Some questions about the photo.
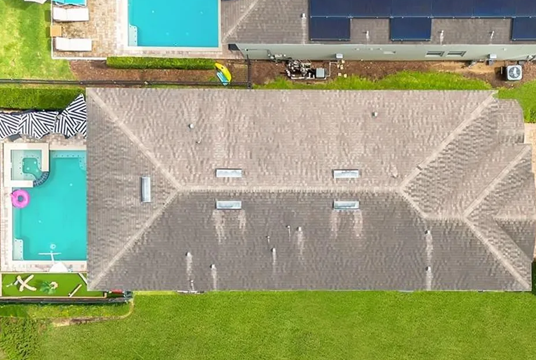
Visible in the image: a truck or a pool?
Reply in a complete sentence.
Of the two, only a pool appears.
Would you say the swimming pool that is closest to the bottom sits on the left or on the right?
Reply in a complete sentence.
The swimming pool that is closest to the bottom sits on the left side.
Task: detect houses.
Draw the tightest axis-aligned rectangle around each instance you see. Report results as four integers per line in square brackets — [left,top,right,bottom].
[220,0,536,60]
[85,87,536,292]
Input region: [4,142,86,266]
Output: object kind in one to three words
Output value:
swimming pool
